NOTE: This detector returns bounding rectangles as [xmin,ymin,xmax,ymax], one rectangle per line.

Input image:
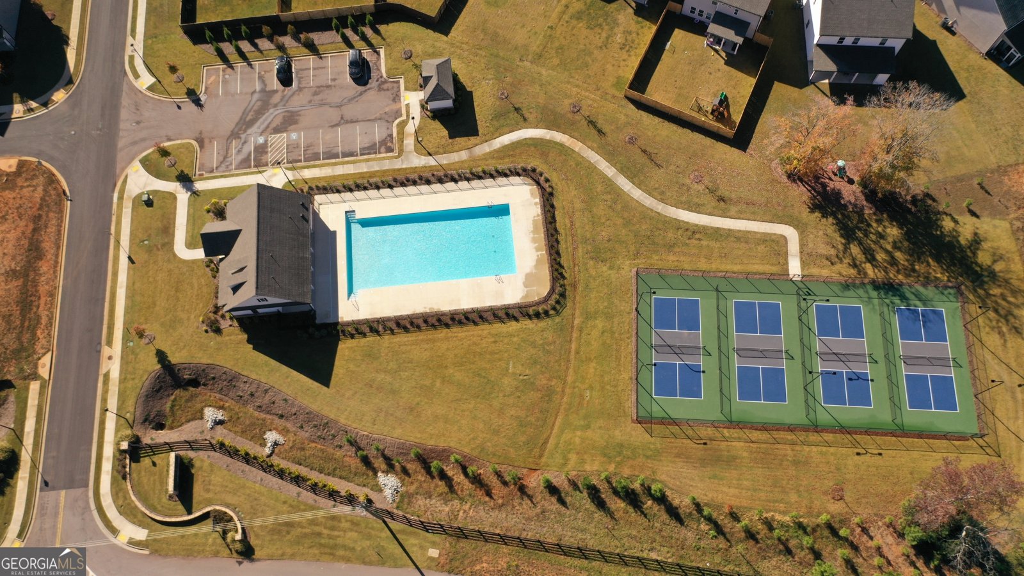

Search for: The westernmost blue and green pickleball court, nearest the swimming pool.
[637,273,720,421]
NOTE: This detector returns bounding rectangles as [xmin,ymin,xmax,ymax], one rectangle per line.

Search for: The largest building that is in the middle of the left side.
[200,184,313,317]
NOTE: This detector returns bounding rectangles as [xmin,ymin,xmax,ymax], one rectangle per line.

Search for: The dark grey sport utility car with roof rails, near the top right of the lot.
[347,47,363,78]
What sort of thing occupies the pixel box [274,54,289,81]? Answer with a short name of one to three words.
car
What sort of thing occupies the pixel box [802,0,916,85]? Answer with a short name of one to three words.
house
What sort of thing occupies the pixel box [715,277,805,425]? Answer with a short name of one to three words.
sports court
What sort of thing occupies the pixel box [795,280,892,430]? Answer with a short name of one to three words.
sports court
